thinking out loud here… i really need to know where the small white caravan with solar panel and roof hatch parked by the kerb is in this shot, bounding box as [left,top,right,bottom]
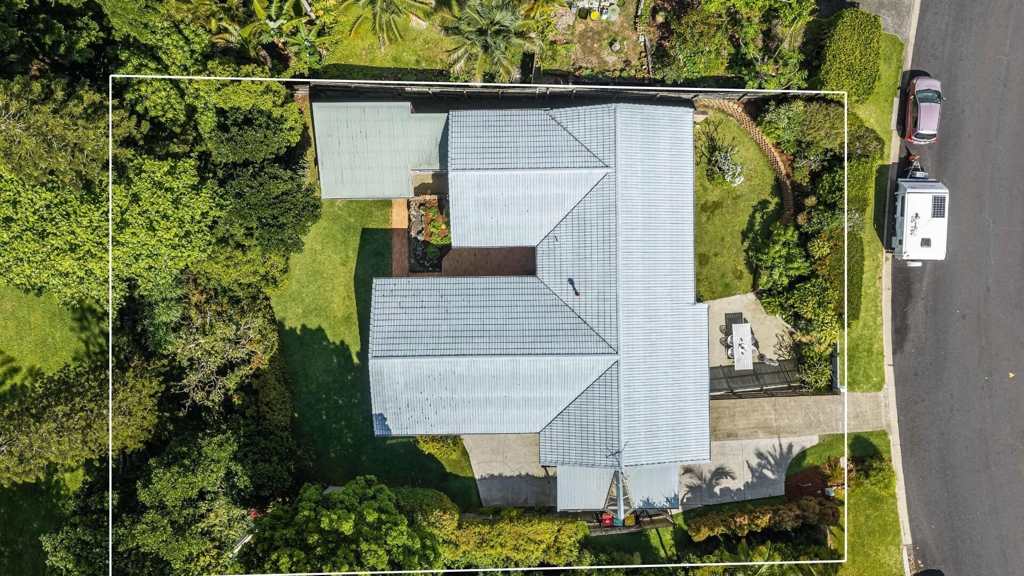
[888,158,947,265]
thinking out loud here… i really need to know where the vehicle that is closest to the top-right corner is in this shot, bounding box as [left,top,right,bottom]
[901,76,946,146]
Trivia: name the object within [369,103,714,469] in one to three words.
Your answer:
house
